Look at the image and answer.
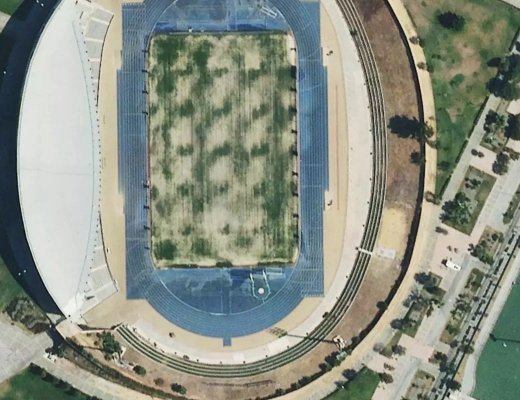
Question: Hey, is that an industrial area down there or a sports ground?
sports ground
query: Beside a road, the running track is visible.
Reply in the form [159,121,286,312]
[117,0,328,346]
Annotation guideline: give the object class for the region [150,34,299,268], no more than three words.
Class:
sports field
